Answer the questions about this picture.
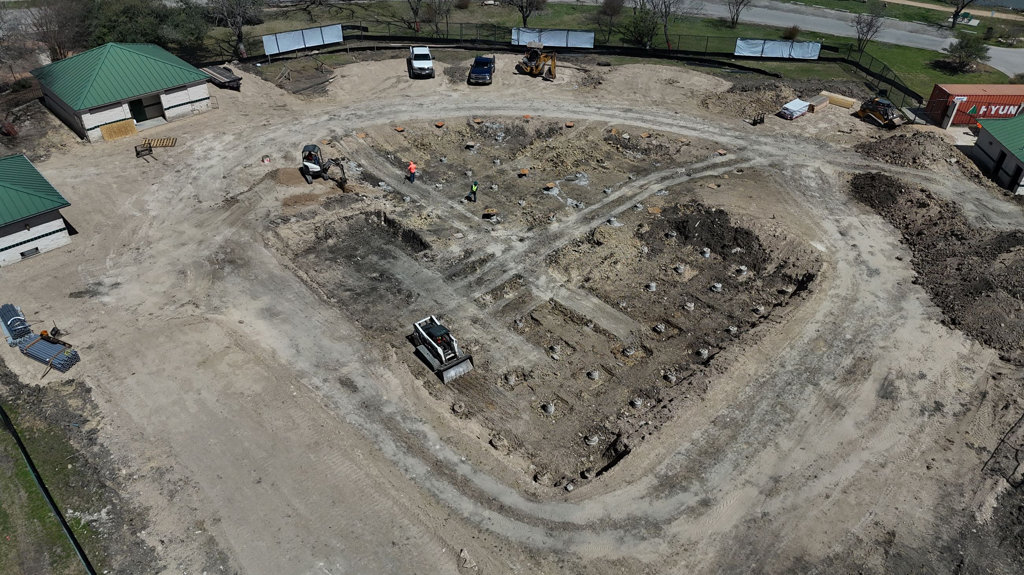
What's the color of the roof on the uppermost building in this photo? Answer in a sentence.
From above, the roof of the uppermost building looks green.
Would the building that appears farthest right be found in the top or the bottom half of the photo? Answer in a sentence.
The top half of the photo is where the building that appears farthest right is.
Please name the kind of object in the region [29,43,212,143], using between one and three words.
building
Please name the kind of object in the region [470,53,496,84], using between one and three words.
truck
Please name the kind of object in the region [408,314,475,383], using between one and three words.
work vehicle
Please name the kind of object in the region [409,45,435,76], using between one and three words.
truck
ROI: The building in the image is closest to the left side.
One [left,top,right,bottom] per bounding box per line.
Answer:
[0,152,73,268]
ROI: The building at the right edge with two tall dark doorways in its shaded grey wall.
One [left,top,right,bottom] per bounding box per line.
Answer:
[974,118,1024,195]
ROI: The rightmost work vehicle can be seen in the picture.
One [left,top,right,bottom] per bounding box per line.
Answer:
[860,92,907,132]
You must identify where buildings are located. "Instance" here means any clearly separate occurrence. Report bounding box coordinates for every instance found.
[0,152,73,268]
[974,118,1024,195]
[29,43,212,143]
